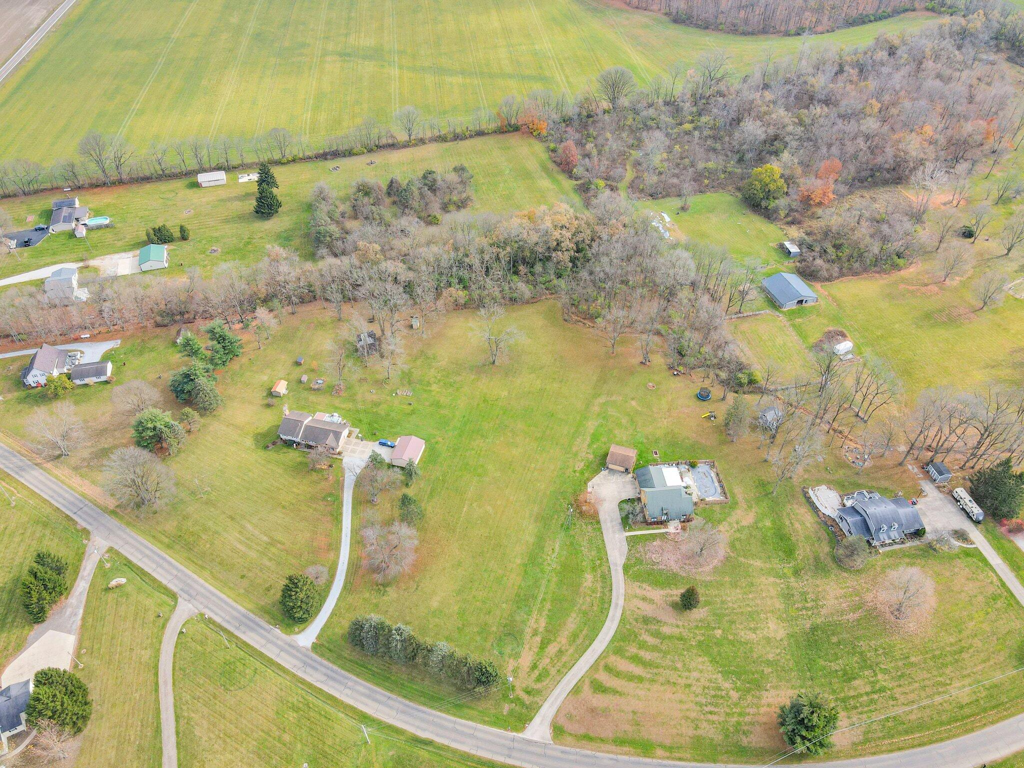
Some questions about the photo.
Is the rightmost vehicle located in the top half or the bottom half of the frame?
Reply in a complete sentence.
You can find the rightmost vehicle in the bottom half.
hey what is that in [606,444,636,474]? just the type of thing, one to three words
building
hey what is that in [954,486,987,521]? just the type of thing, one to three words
vehicle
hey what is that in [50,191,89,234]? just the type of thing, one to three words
house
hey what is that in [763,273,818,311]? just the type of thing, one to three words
barn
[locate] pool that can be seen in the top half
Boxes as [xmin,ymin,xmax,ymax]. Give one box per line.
[80,216,116,228]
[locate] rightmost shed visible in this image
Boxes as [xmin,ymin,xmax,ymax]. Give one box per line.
[928,460,951,482]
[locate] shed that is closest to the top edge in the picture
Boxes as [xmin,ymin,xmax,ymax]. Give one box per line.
[197,171,227,188]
